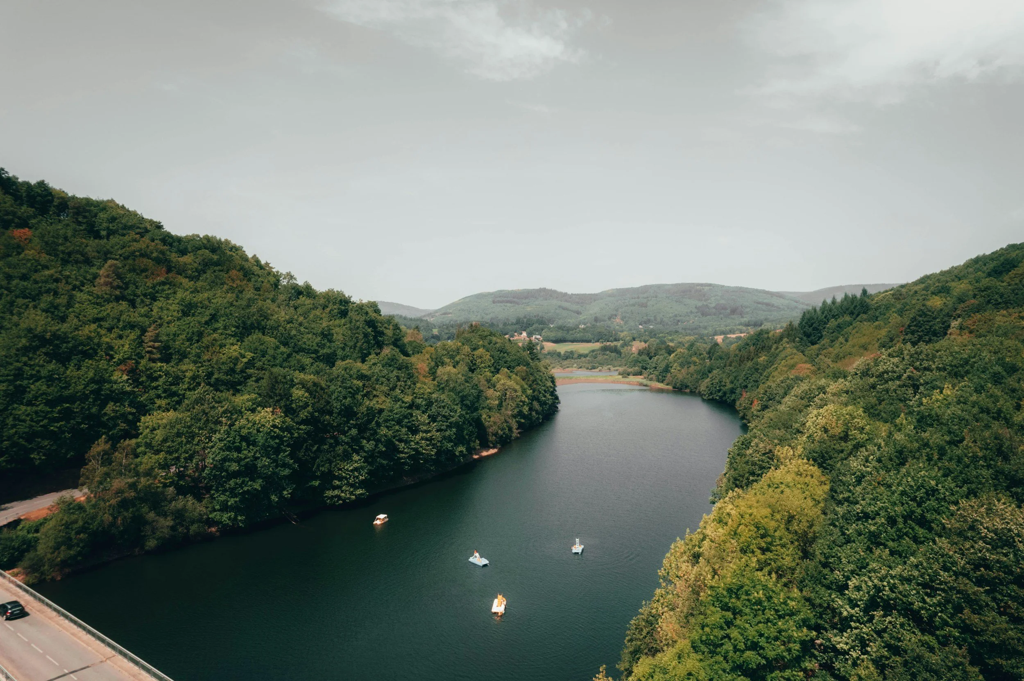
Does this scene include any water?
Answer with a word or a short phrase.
Yes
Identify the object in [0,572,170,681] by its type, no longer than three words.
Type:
bridge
